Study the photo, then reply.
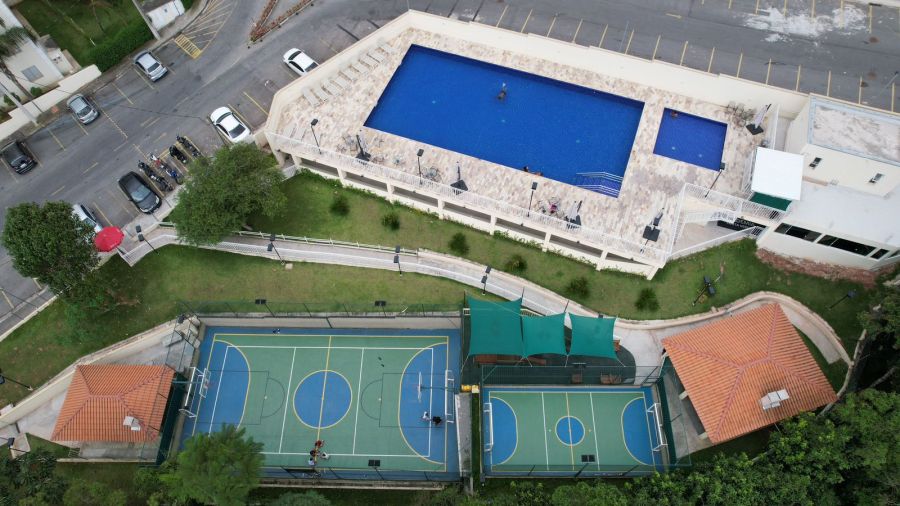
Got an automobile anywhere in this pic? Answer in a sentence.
Yes, an automobile is visible in the scene.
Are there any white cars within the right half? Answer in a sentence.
No, no white car is visible within the right half.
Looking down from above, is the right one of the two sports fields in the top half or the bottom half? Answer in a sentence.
It is in the bottom half that the right one of the two sports fields appears.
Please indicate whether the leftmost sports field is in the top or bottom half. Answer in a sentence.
The leftmost sports field is in the bottom half of the image.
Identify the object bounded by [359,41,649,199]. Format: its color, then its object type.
blue swimming pool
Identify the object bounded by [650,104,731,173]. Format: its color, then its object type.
blue swimming pool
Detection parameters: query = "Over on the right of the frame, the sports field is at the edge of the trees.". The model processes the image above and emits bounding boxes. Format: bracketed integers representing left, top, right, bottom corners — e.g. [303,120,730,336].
[490,392,655,471]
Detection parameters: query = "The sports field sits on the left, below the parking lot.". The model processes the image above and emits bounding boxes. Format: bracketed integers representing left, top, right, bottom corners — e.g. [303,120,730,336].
[214,335,447,470]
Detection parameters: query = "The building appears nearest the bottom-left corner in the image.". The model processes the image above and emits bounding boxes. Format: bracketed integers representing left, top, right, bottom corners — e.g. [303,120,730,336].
[49,363,182,446]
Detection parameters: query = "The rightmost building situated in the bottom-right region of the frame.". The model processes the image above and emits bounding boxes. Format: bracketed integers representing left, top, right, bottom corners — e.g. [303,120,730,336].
[658,302,840,445]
